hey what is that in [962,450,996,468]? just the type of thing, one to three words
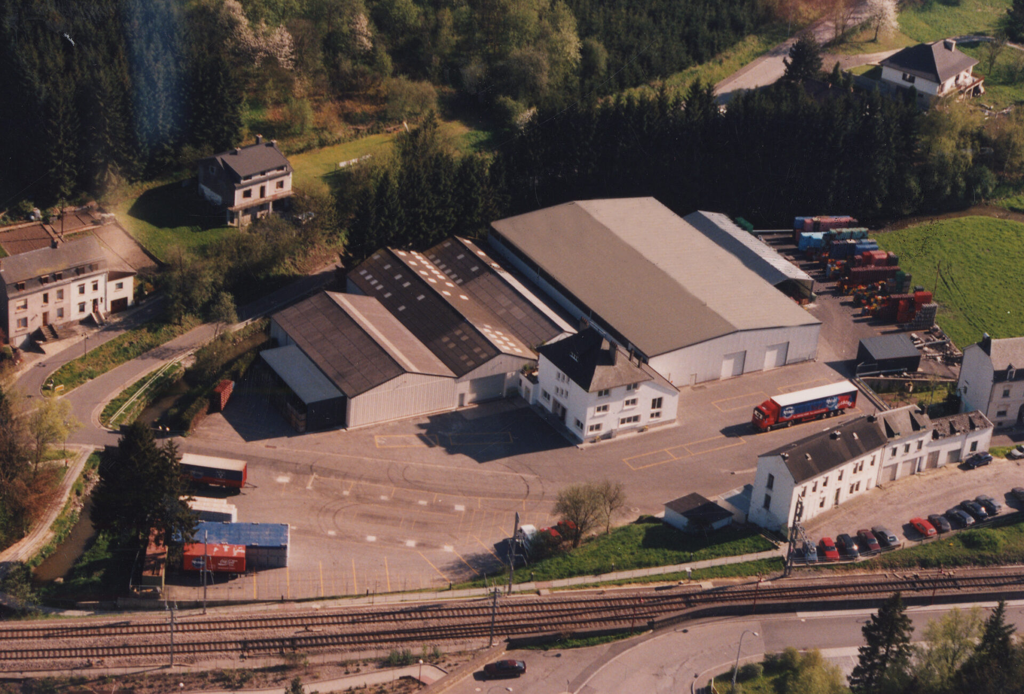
car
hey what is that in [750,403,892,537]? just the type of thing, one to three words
house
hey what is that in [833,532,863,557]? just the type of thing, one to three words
car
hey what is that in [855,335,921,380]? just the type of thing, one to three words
shed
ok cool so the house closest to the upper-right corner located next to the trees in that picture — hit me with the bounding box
[879,49,994,118]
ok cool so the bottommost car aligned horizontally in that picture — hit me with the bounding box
[486,660,526,679]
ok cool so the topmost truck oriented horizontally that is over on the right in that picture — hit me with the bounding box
[749,379,861,429]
